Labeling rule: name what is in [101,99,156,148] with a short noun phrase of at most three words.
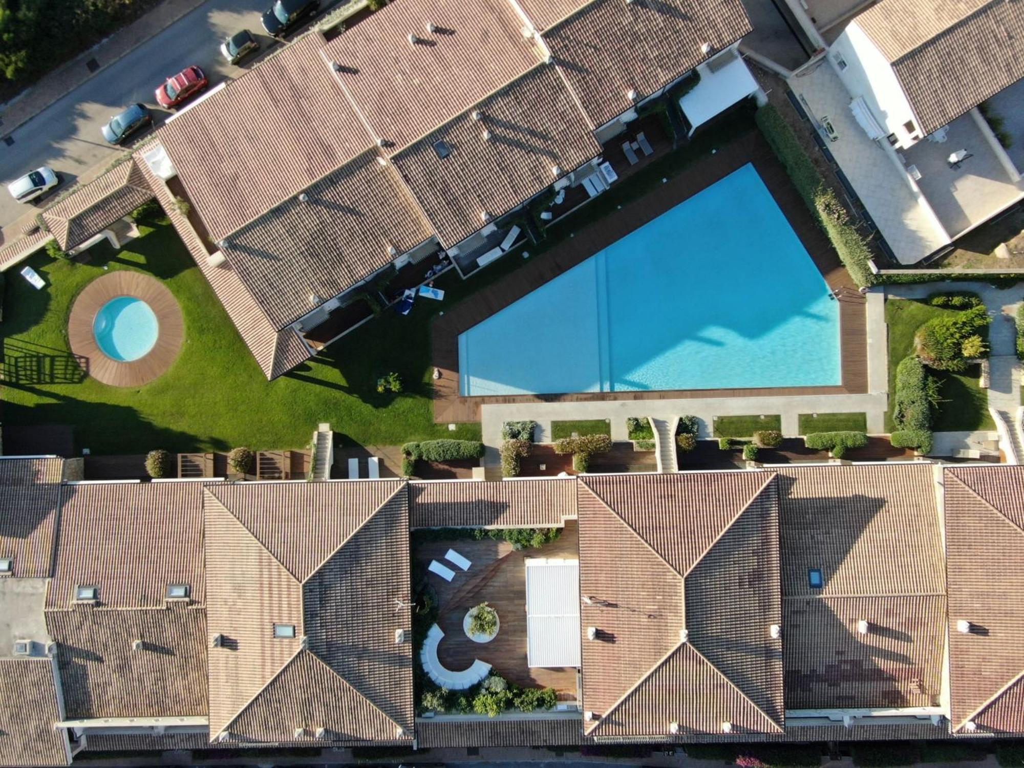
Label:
car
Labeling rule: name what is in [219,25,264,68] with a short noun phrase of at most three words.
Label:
car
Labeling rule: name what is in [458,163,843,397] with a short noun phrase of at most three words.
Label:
swimming pool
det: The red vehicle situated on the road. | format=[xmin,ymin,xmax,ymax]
[154,62,213,112]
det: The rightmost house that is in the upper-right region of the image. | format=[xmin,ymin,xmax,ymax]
[827,0,1024,154]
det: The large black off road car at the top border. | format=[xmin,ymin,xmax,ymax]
[262,0,327,41]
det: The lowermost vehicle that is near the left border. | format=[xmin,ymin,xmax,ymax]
[2,165,62,207]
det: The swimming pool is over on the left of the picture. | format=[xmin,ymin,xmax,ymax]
[91,294,161,363]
